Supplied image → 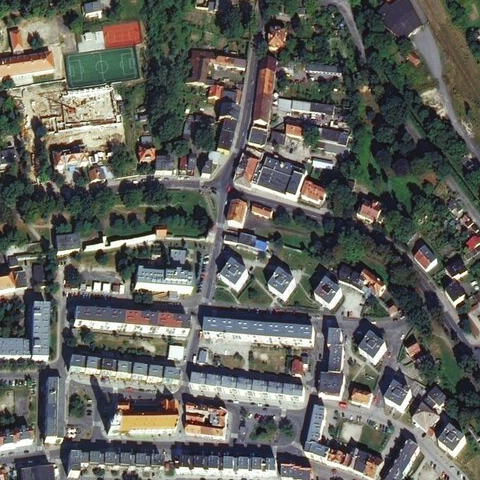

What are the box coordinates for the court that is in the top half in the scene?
[103,21,142,49]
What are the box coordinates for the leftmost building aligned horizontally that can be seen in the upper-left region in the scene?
[0,52,54,81]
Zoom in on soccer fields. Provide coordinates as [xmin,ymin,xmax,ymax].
[65,46,139,89]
